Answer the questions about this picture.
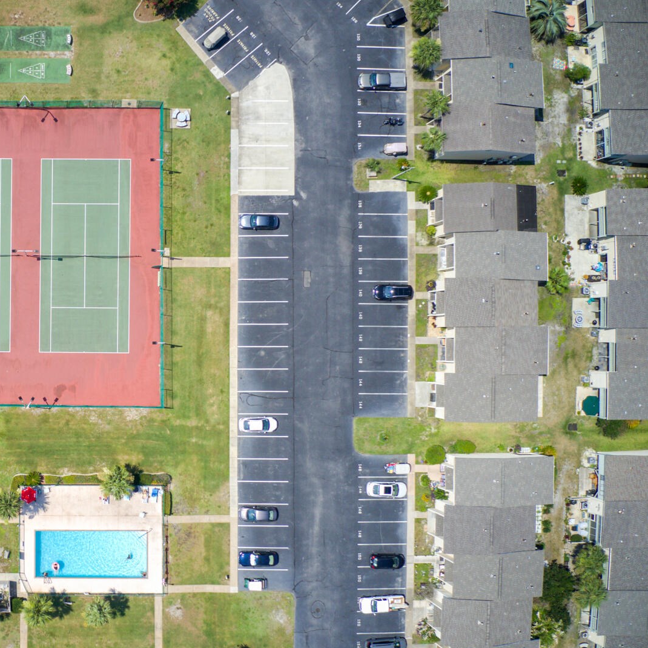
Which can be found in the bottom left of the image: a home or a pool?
pool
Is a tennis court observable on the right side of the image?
No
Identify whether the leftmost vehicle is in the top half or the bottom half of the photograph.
top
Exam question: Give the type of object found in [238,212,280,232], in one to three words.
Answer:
car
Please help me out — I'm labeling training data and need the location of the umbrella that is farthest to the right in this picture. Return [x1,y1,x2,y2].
[578,396,598,414]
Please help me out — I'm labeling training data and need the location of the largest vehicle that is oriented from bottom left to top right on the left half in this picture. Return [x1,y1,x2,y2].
[200,23,233,53]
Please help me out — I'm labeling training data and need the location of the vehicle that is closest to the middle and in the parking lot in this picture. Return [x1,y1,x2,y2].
[371,283,415,302]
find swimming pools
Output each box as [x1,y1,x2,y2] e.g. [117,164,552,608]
[20,485,166,594]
